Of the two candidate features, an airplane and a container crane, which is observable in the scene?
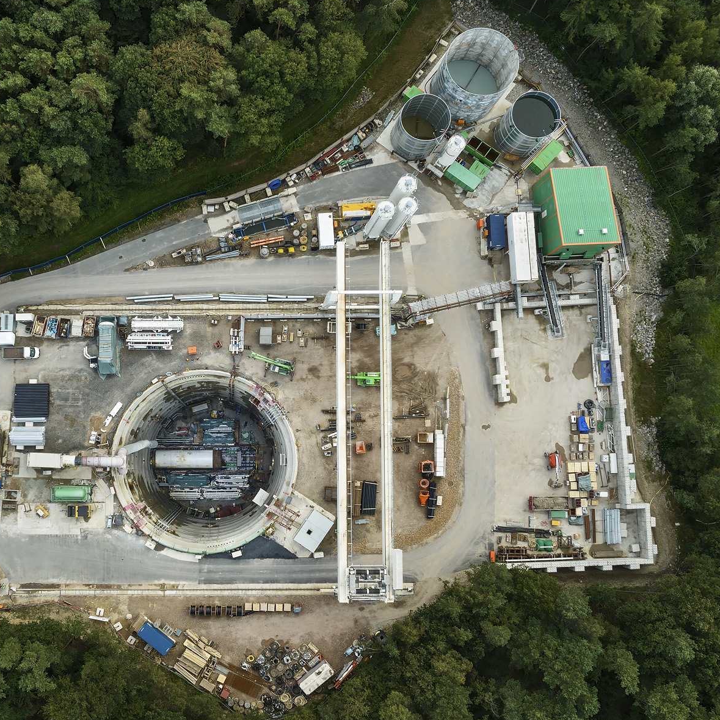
container crane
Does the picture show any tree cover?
Yes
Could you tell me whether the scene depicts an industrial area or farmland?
industrial area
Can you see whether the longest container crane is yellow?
No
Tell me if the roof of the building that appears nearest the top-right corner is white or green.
green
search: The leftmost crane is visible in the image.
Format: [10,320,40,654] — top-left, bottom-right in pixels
[247,349,298,386]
